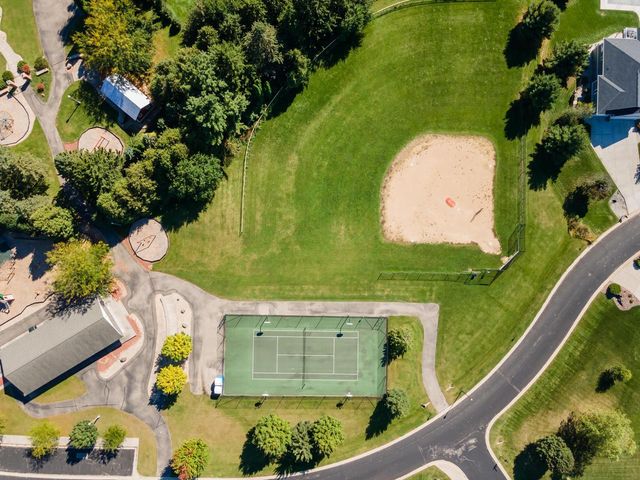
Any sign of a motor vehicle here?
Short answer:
No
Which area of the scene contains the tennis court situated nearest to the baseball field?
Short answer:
bottom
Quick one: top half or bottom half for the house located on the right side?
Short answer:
top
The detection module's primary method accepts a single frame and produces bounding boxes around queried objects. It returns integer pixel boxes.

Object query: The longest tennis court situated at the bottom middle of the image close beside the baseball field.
[224,316,386,397]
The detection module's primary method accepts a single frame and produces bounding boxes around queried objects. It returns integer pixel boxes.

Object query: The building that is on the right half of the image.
[591,38,640,114]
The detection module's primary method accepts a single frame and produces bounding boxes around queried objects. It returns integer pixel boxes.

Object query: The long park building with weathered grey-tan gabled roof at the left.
[0,296,124,396]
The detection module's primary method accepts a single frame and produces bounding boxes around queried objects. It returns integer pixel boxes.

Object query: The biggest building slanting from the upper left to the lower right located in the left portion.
[101,72,156,124]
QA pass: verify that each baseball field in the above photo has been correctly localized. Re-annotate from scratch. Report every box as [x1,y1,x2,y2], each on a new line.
[242,0,522,298]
